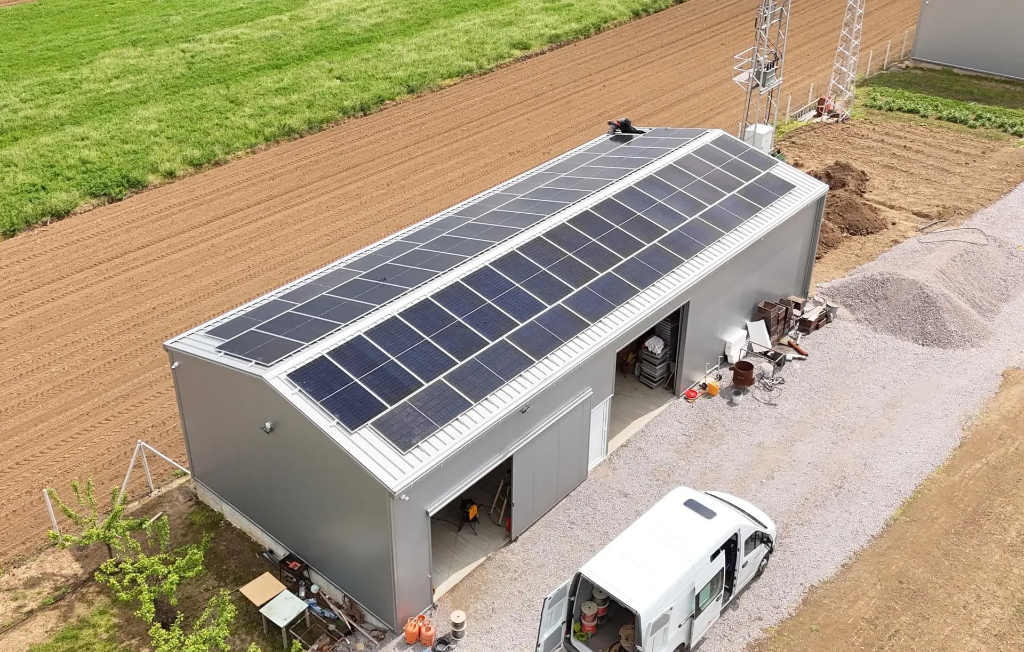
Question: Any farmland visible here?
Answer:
Yes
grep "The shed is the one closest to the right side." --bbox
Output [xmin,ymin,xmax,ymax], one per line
[911,0,1024,77]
